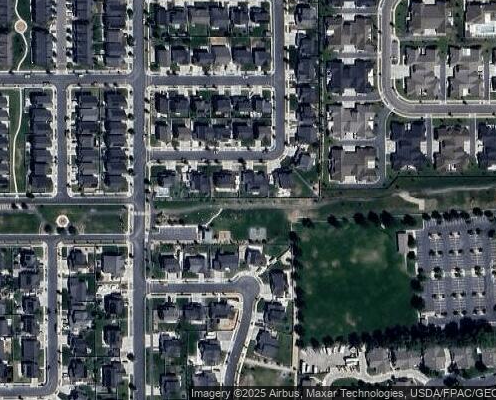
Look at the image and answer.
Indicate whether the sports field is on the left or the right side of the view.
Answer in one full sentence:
The sports field appears in the right half of the scene.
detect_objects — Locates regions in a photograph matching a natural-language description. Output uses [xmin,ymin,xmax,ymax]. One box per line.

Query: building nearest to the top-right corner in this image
[467,0,496,22]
